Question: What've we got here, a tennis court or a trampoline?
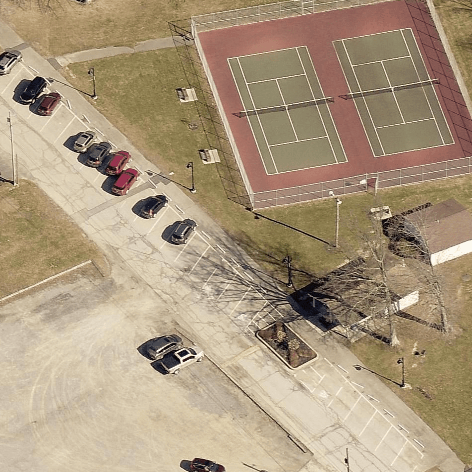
tennis court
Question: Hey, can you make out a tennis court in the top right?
Yes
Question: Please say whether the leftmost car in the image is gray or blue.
gray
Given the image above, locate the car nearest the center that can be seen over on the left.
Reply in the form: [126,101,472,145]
[169,222,196,248]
